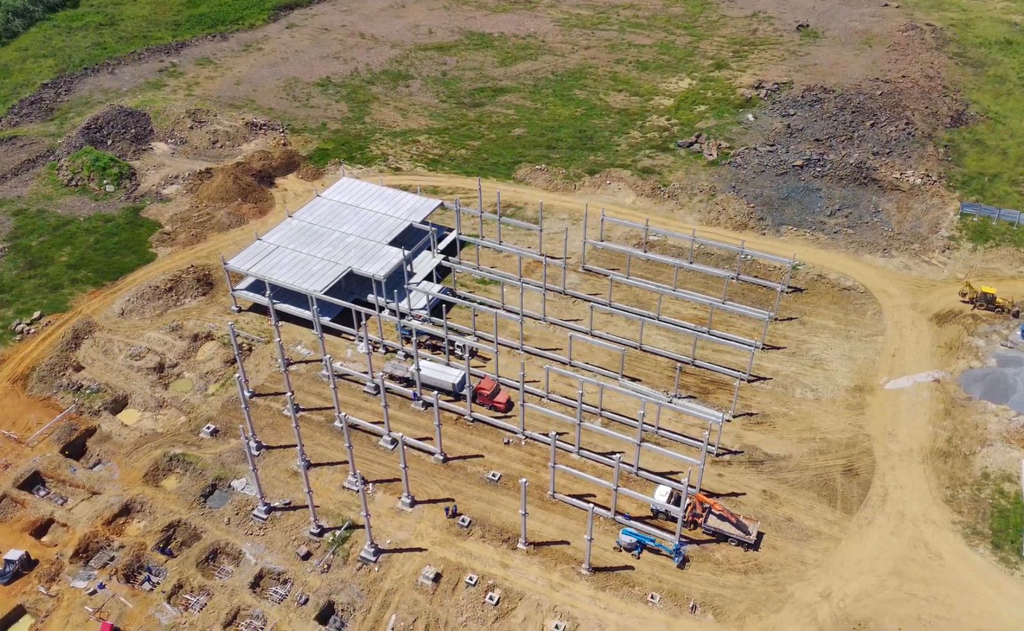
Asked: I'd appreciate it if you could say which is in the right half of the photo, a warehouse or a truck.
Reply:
truck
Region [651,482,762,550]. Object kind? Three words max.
truck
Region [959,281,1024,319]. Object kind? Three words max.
work vehicle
